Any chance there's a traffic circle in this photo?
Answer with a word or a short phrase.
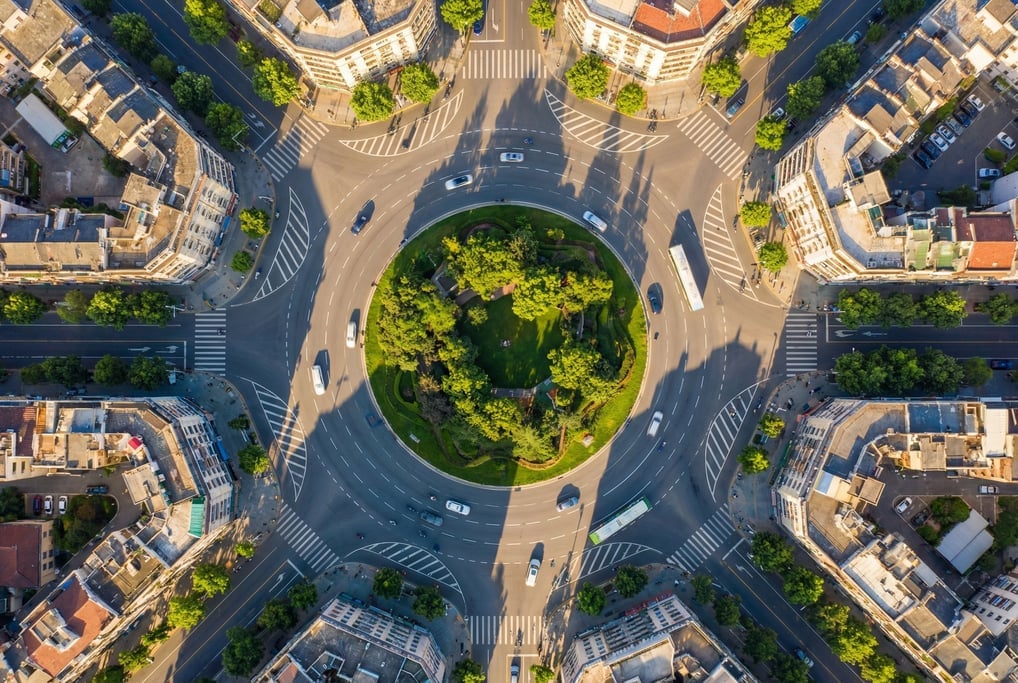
Yes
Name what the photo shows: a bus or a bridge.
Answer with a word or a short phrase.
bus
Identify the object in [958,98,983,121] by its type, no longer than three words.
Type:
car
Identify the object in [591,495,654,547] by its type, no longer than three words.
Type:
bus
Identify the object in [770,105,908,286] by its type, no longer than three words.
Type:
building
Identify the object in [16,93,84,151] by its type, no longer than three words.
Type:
shed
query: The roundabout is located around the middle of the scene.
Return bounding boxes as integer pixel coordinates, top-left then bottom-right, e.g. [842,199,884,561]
[196,34,818,656]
